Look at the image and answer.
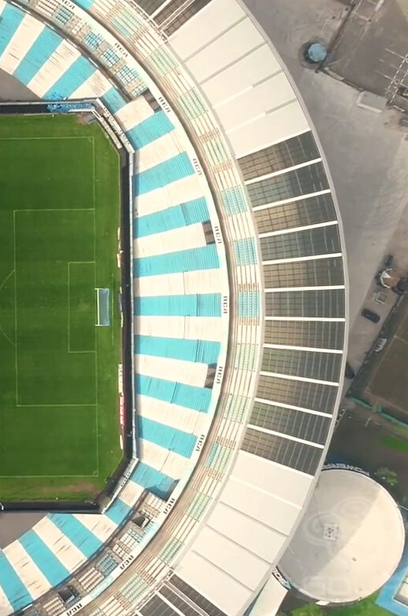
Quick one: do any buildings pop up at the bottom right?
Yes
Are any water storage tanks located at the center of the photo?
No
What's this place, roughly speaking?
sports ground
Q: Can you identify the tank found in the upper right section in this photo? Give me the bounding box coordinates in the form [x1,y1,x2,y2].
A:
[297,42,326,68]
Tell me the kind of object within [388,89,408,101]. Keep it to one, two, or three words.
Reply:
vehicle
